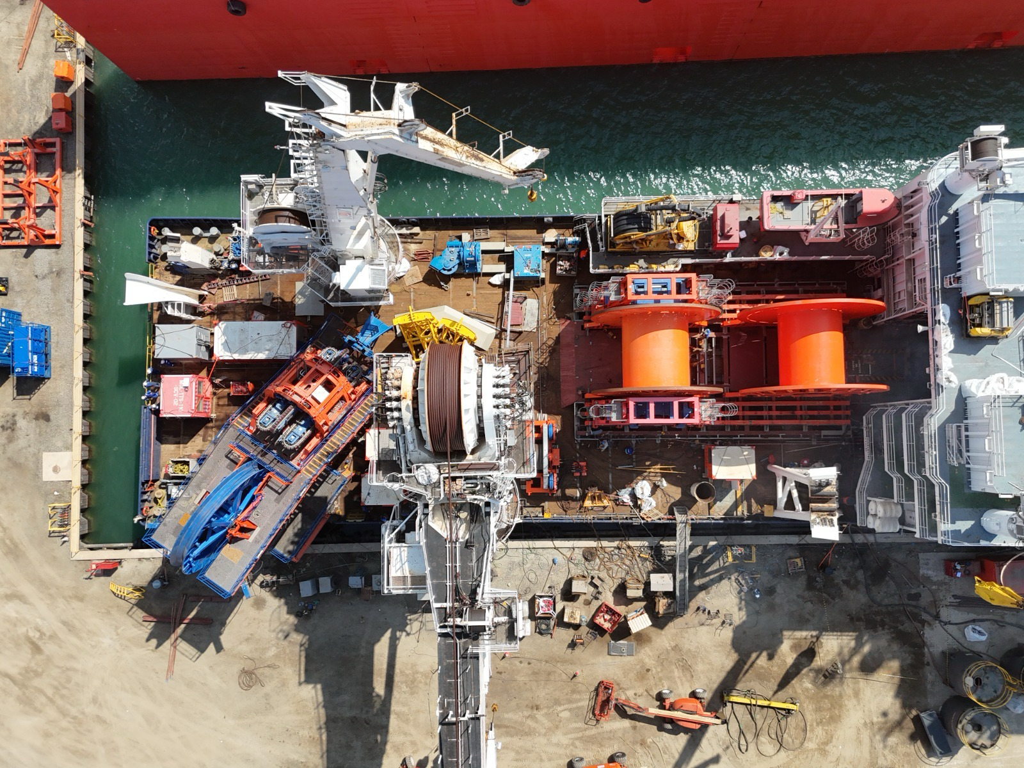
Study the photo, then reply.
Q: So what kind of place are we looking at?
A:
port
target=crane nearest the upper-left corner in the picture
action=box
[259,69,549,306]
